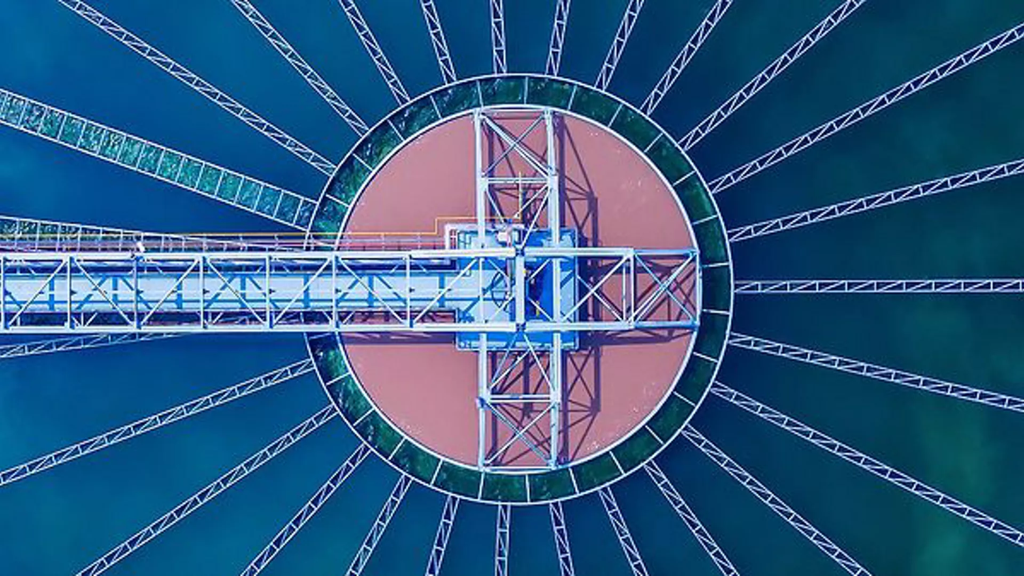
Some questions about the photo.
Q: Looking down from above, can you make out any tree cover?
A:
No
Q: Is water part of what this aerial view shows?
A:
Yes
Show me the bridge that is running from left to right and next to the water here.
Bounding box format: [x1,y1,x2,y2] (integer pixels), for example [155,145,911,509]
[0,232,701,331]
